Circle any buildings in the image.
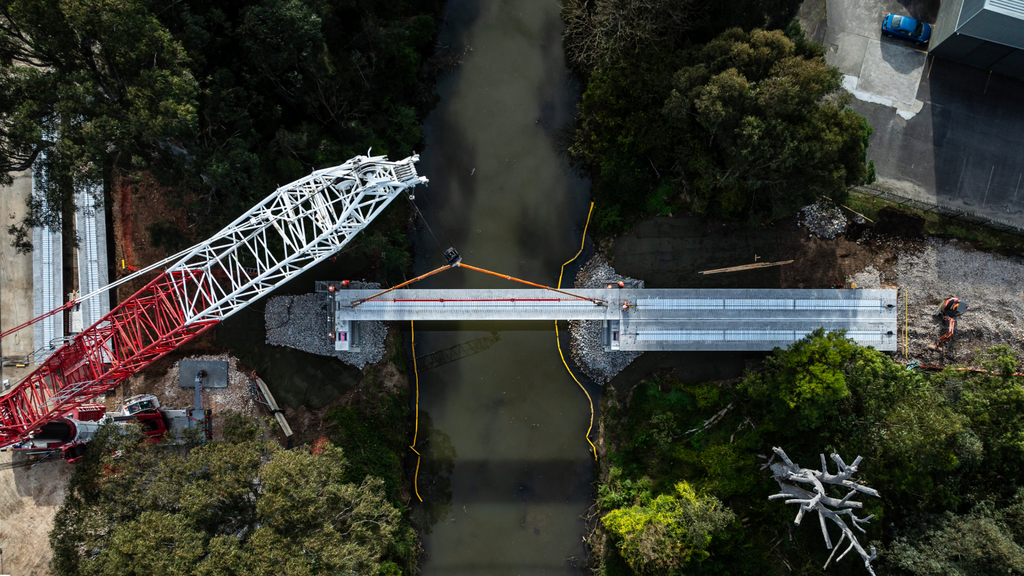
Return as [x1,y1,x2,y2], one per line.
[928,0,1024,79]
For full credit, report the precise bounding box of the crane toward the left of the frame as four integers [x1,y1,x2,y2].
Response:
[0,147,453,477]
